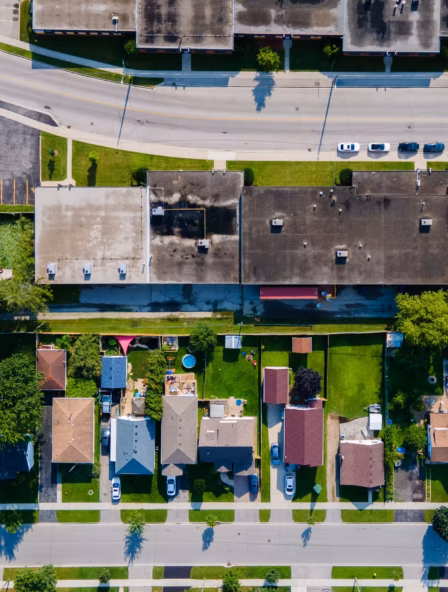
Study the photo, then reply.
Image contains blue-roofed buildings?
Yes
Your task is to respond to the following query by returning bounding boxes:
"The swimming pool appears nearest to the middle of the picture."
[182,354,197,368]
